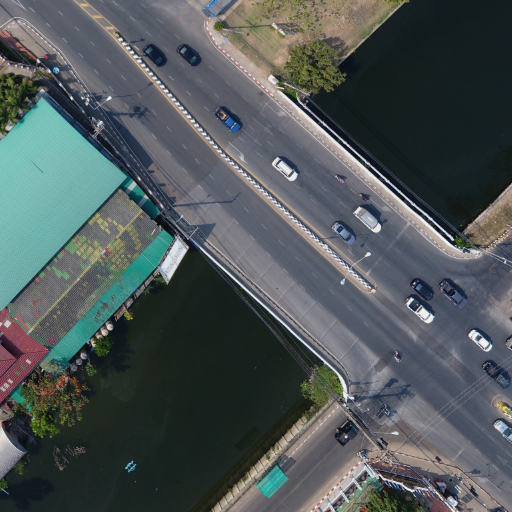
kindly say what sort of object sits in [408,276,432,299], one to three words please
car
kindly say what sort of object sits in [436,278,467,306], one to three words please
truck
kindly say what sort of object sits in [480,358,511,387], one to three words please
truck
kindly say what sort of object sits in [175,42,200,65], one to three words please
car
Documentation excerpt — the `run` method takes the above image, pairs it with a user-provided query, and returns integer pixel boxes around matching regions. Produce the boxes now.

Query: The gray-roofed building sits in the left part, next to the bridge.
[9,186,174,371]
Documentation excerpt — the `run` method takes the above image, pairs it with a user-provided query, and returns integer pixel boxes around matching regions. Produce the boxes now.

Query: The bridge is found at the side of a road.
[184,90,488,392]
